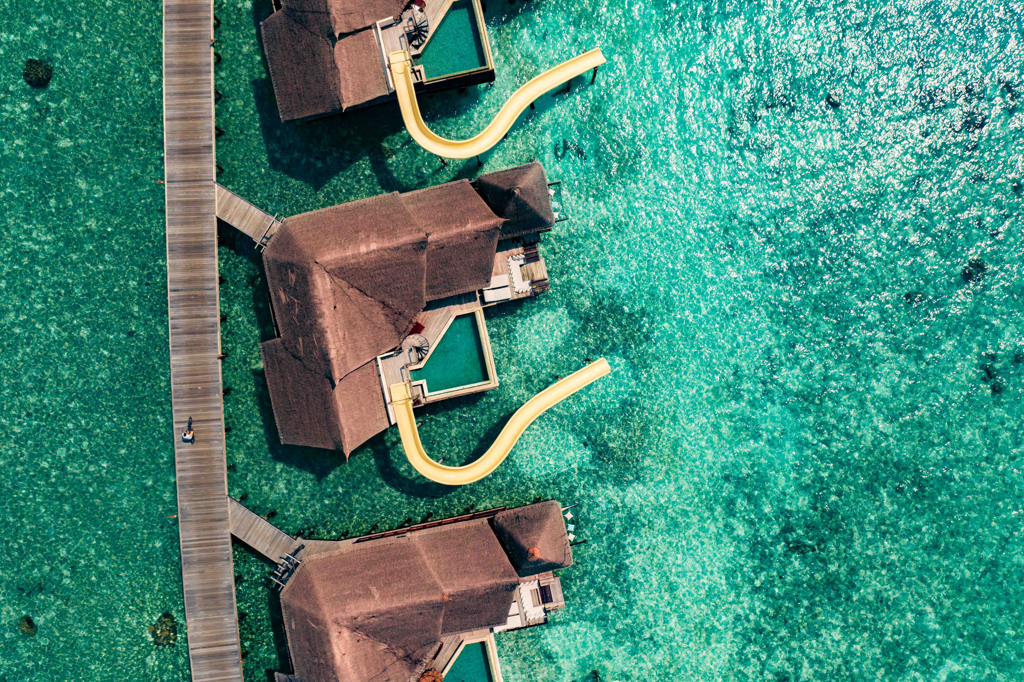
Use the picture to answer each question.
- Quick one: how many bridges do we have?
2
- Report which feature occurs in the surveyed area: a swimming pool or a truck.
swimming pool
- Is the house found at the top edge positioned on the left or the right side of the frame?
left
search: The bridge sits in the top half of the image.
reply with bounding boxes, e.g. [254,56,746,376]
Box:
[215,183,278,248]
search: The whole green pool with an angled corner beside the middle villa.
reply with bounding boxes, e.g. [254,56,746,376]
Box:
[408,307,500,408]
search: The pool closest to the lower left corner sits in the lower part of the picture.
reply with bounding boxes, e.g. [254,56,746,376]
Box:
[438,633,507,682]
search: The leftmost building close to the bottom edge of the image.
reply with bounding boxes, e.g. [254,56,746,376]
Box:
[274,505,527,682]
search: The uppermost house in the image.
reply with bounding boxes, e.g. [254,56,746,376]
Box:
[256,0,448,137]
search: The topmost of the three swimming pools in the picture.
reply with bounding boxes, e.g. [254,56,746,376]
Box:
[409,0,498,100]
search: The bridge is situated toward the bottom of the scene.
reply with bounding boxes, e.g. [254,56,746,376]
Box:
[228,497,298,569]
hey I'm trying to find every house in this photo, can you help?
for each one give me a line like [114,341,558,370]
[274,505,527,682]
[256,0,448,137]
[258,178,509,460]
